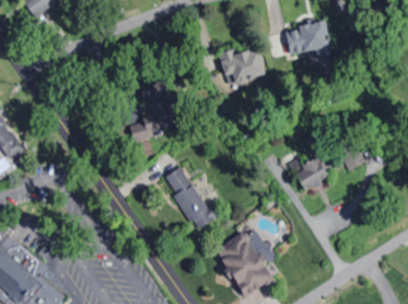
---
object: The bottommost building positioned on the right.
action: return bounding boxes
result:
[221,230,275,296]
